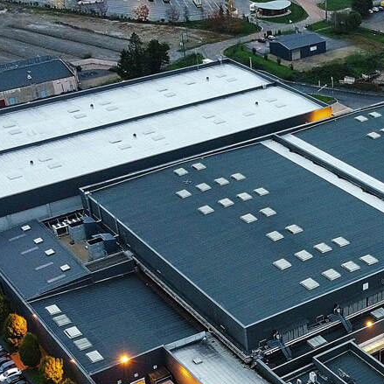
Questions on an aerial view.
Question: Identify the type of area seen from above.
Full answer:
This looks like an industrial area.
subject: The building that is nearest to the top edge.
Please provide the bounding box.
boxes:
[248,2,295,20]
